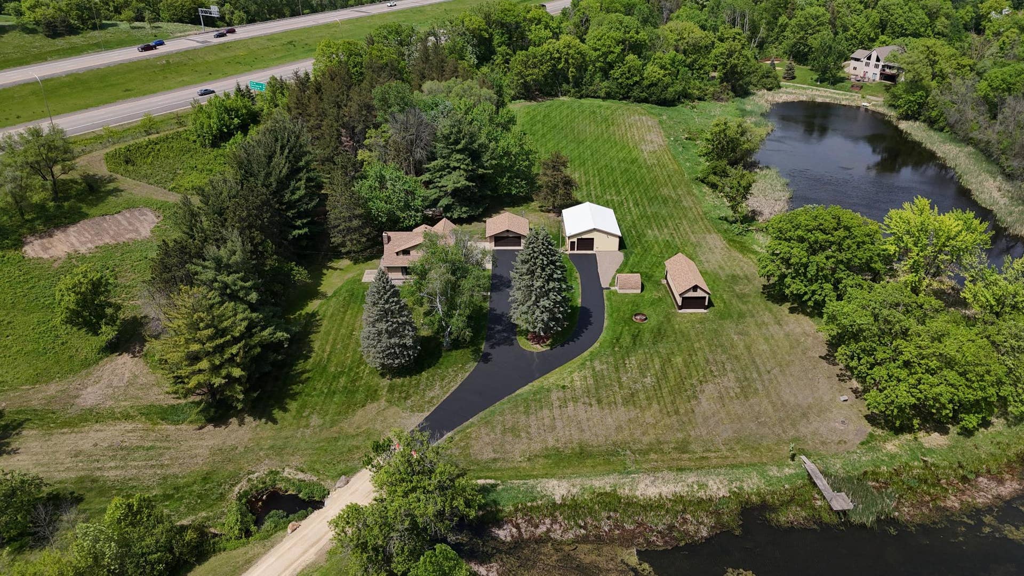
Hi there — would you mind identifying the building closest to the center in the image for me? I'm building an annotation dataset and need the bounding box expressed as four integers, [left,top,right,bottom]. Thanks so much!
[486,210,529,247]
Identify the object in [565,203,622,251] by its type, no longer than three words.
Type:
barn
